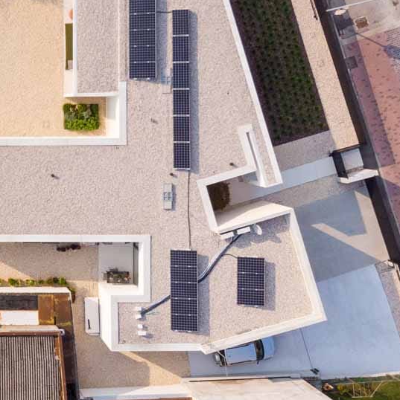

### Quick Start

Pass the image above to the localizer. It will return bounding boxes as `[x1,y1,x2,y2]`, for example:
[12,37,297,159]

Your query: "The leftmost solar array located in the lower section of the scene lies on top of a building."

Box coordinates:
[171,248,198,332]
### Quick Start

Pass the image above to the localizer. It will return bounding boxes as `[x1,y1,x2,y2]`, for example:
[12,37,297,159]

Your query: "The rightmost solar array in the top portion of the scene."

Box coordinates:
[173,9,189,171]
